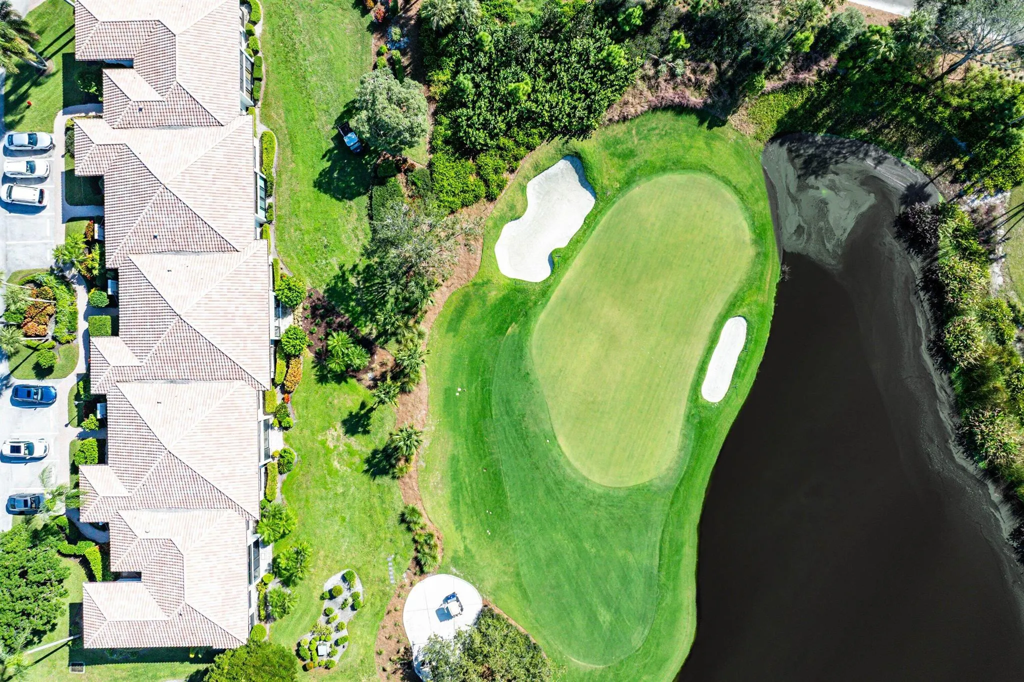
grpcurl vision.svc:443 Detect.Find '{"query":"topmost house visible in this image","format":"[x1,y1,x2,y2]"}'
[73,0,255,131]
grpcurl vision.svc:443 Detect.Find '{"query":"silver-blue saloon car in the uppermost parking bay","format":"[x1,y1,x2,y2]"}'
[4,128,56,152]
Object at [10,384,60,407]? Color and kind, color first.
blue car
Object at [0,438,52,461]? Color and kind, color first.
white car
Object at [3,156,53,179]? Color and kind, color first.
white car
